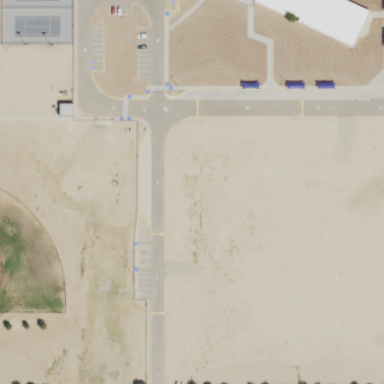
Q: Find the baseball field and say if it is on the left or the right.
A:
left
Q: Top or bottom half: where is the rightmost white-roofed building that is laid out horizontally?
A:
top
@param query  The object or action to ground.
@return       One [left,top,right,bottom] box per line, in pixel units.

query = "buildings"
[256,0,370,46]
[59,102,74,116]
